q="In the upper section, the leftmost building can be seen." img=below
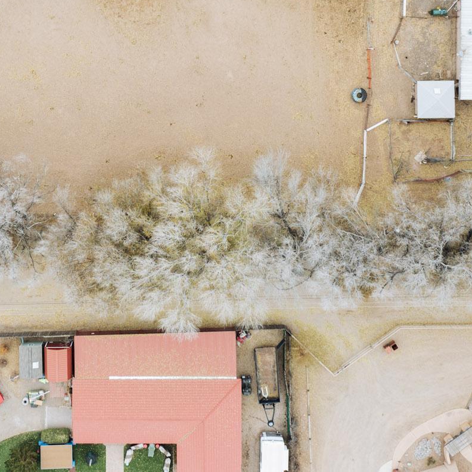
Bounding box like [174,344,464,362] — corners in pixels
[411,81,455,118]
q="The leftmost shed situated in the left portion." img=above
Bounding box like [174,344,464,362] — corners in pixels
[19,341,44,379]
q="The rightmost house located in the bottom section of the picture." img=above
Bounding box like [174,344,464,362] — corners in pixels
[72,325,242,472]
